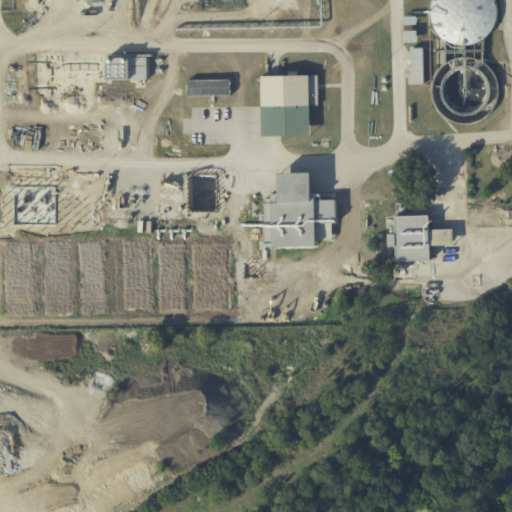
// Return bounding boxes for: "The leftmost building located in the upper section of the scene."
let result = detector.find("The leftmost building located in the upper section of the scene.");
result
[105,54,152,89]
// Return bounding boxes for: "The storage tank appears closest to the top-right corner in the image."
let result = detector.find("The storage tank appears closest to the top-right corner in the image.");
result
[422,0,498,46]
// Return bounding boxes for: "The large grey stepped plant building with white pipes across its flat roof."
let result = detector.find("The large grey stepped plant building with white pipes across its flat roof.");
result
[262,173,336,248]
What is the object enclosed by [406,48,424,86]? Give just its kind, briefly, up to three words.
shed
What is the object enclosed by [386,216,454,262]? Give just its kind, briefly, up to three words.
building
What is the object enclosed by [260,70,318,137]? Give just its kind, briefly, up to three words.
building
